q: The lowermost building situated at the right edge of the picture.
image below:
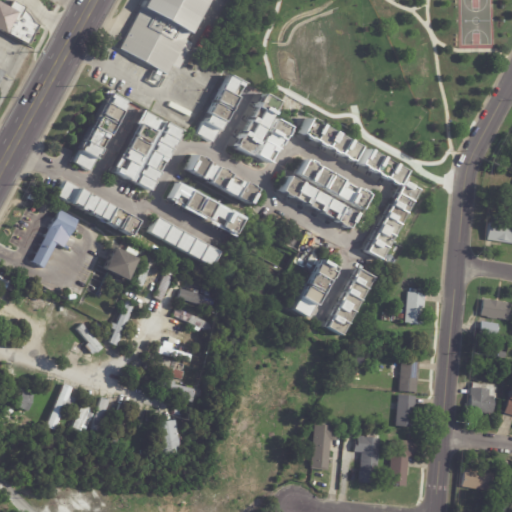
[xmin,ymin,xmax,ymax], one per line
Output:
[459,472,495,488]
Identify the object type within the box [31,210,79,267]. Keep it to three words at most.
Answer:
building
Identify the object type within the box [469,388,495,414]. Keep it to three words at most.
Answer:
house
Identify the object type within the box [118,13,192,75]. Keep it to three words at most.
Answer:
building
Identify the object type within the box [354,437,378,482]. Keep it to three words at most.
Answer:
house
